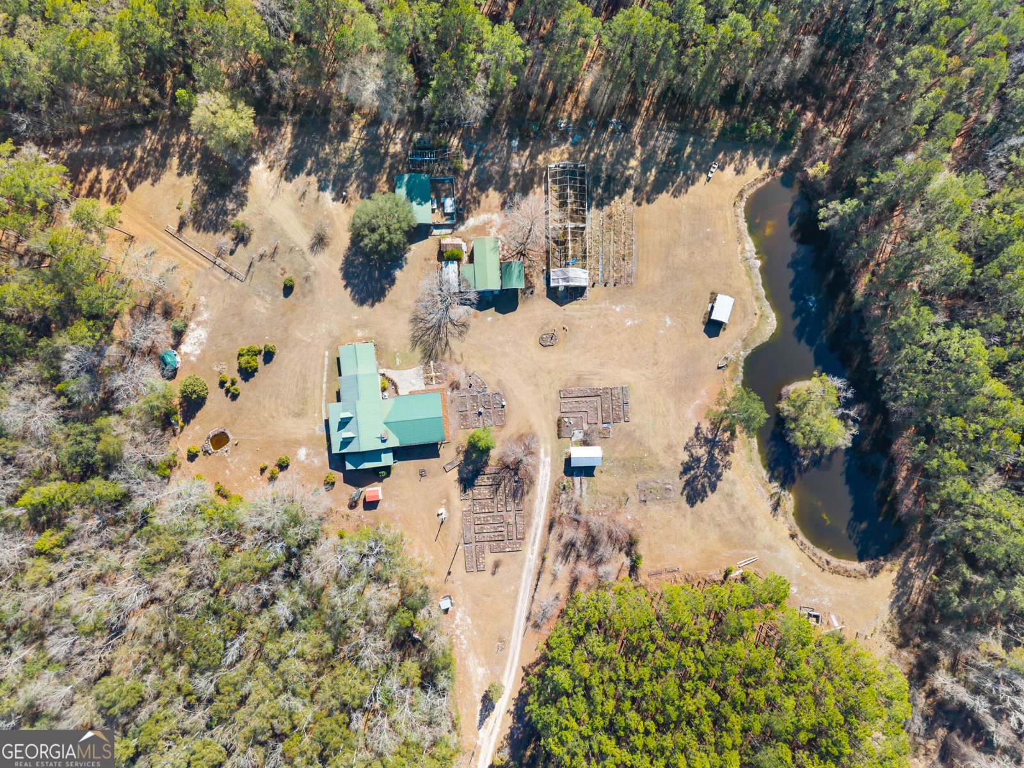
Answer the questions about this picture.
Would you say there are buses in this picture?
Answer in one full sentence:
No, the photo shows no bus.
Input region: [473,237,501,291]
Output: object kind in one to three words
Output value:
shed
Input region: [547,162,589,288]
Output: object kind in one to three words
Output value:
greenhouse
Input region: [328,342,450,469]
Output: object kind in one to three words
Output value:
house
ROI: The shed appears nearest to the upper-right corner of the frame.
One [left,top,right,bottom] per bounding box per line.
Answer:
[711,293,739,324]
